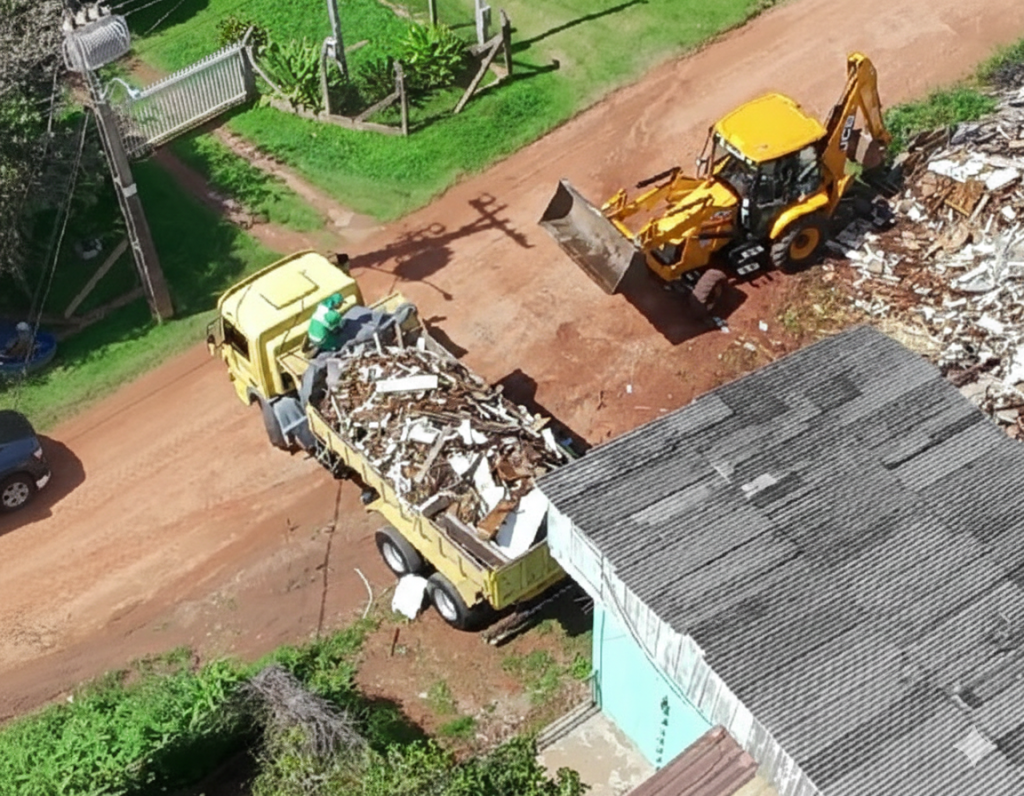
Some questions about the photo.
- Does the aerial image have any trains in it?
No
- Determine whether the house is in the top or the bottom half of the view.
bottom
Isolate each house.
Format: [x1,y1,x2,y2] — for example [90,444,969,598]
[531,327,1024,796]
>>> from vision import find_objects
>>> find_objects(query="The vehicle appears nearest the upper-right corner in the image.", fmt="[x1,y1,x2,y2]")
[536,51,895,310]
